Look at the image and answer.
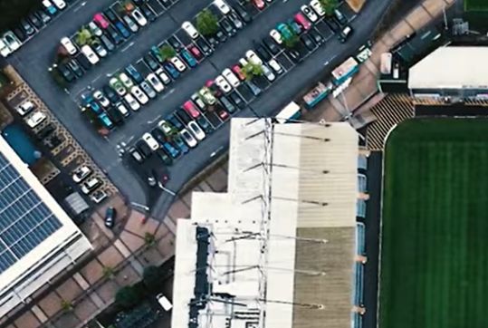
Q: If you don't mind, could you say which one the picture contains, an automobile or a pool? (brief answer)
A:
automobile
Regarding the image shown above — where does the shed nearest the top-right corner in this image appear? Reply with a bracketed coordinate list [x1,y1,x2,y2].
[397,27,431,62]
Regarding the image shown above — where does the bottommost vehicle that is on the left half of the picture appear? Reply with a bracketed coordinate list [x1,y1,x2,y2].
[155,291,171,312]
